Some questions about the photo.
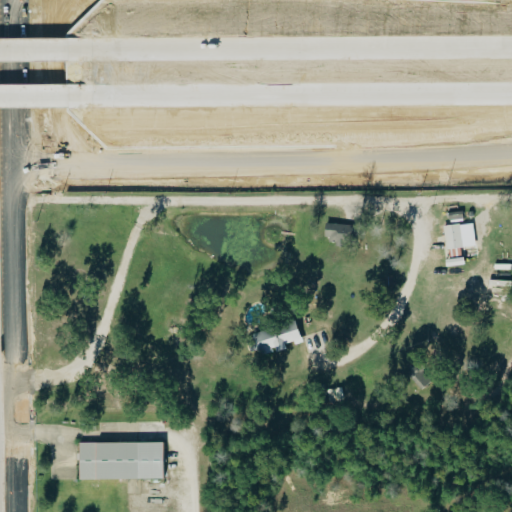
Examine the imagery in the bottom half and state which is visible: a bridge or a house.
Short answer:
house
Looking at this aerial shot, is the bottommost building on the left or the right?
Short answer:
left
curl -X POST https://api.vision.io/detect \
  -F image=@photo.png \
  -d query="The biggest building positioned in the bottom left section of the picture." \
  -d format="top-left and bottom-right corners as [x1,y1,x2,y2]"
[76,442,164,480]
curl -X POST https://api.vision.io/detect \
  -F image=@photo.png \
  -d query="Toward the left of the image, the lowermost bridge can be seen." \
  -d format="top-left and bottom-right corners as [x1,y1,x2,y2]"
[0,83,86,108]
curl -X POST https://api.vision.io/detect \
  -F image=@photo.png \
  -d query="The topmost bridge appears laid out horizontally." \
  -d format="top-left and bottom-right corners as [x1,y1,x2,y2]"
[0,36,86,62]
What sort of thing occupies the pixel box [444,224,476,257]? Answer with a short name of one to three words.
house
